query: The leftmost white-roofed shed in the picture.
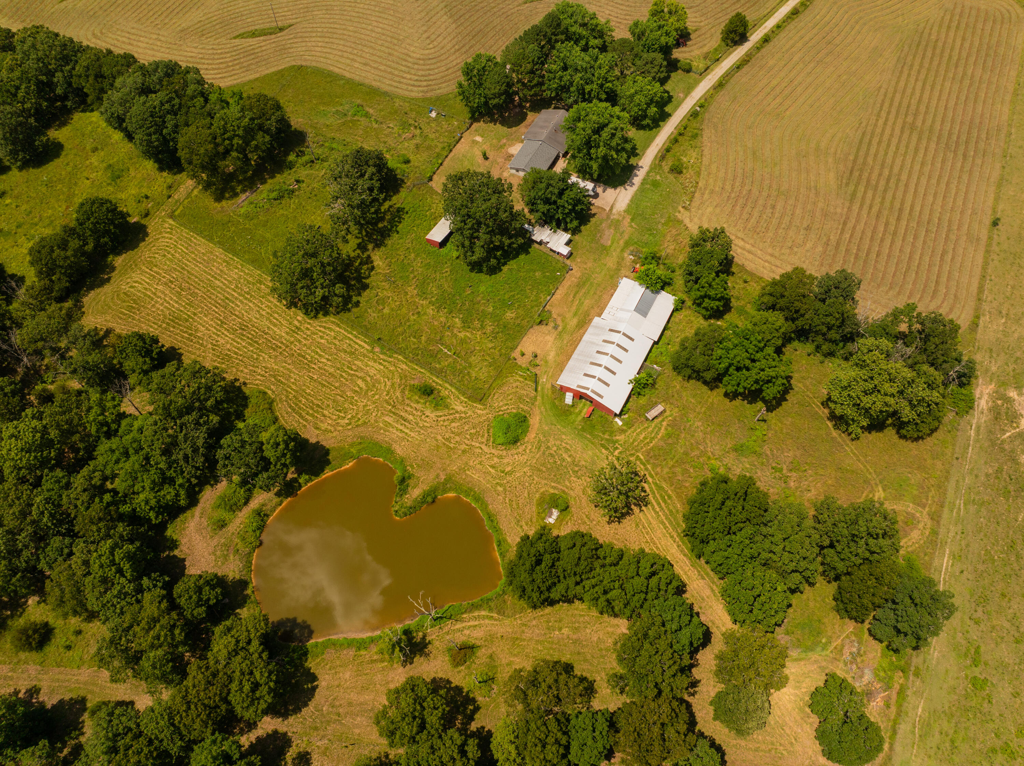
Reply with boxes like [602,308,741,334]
[425,215,450,248]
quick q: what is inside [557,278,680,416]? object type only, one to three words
barn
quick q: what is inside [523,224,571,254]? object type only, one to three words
shed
